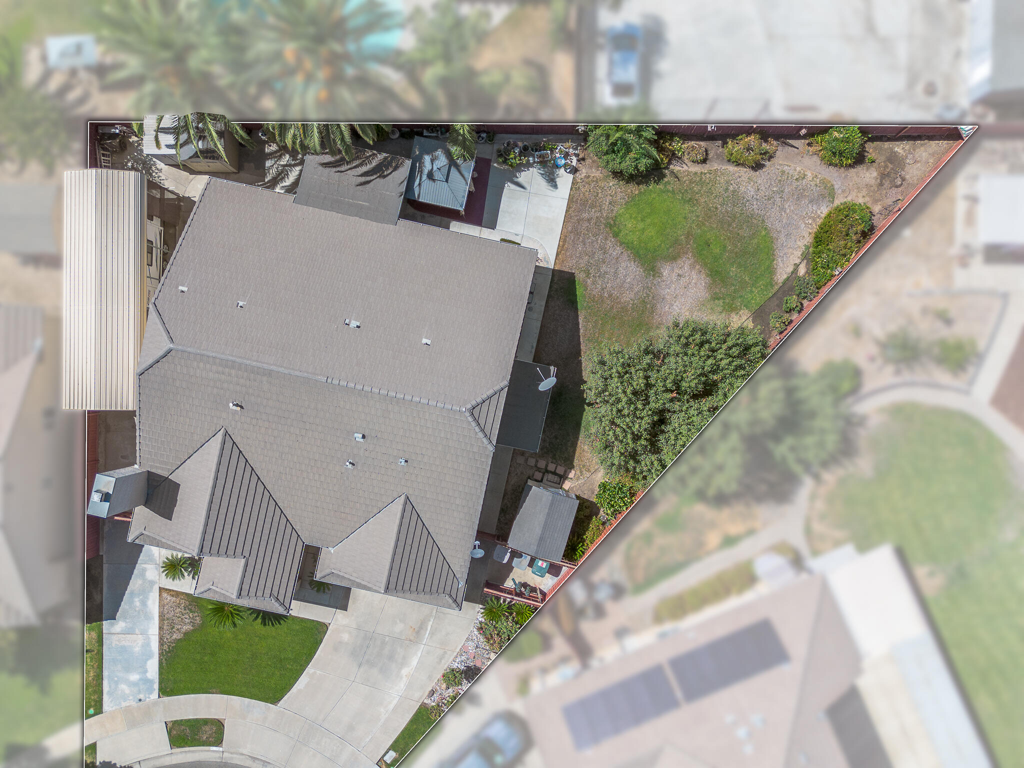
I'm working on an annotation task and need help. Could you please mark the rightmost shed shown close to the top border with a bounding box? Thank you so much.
[953,0,1024,113]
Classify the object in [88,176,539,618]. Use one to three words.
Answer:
house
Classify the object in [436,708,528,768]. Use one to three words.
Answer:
car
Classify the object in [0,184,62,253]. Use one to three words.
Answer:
shed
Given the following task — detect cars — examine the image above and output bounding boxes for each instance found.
[436,708,528,768]
[602,24,645,111]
